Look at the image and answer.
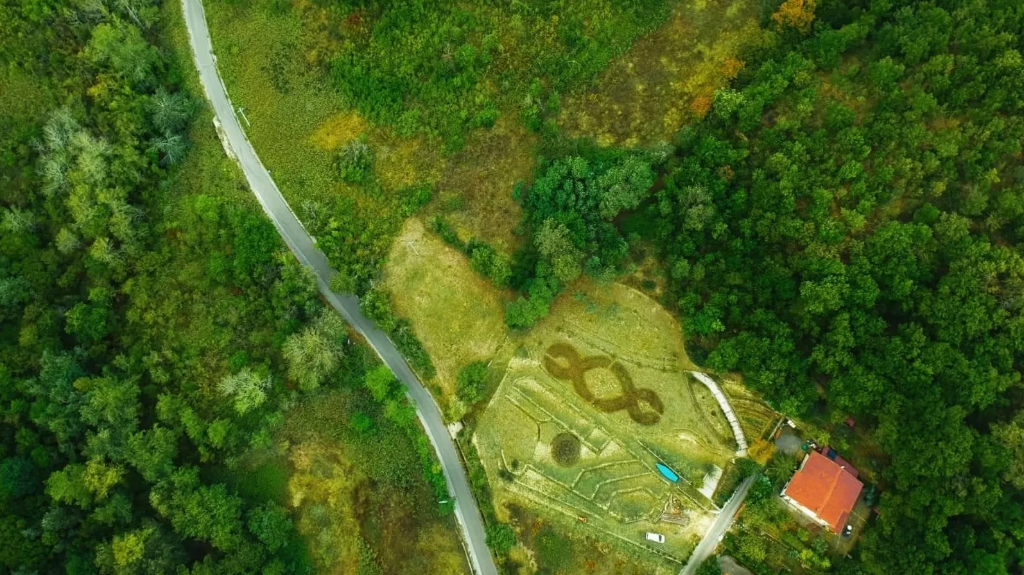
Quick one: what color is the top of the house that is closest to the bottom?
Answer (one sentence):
From above, the roof of the house that is closest to the bottom looks orange.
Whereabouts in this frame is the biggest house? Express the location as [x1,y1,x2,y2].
[776,445,863,531]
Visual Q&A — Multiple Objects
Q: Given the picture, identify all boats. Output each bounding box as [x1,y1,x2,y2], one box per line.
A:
[656,464,678,483]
